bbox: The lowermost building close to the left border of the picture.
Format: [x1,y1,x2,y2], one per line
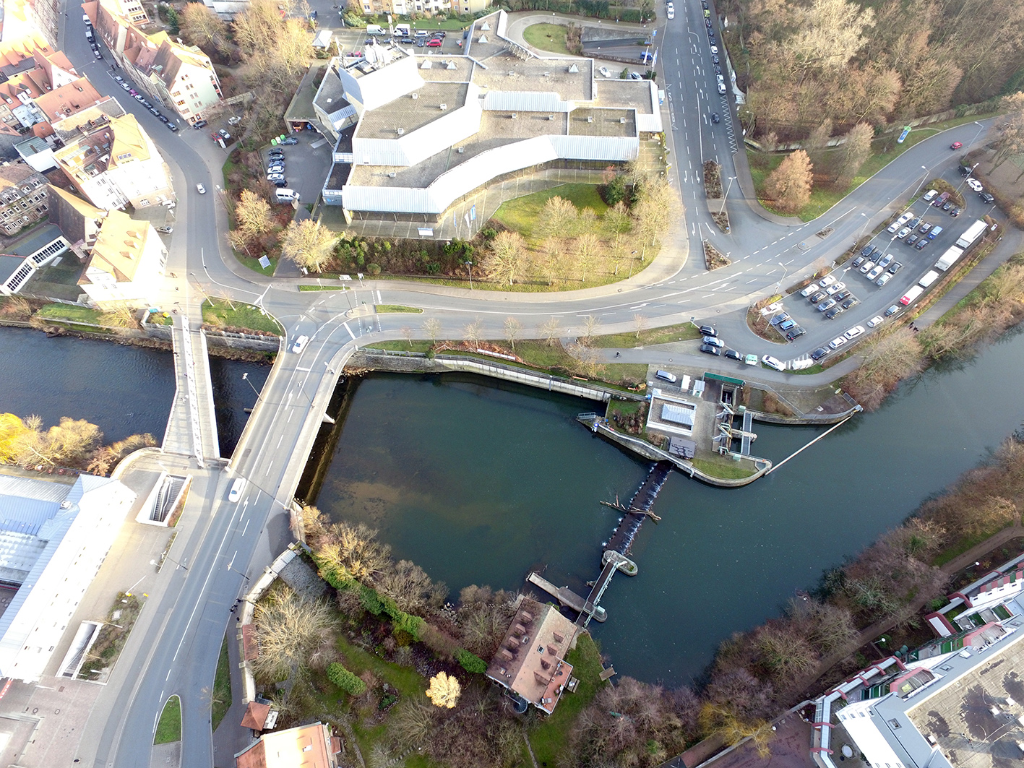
[0,465,136,703]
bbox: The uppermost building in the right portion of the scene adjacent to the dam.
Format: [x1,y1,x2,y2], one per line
[644,388,696,440]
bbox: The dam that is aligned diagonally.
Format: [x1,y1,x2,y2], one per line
[603,459,674,555]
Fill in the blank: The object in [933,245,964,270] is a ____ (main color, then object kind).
white truck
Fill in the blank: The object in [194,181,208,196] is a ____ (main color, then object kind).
white car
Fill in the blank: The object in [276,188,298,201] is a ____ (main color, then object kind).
white vehicle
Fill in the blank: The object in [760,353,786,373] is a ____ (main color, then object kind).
white vehicle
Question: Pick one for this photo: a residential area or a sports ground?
residential area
